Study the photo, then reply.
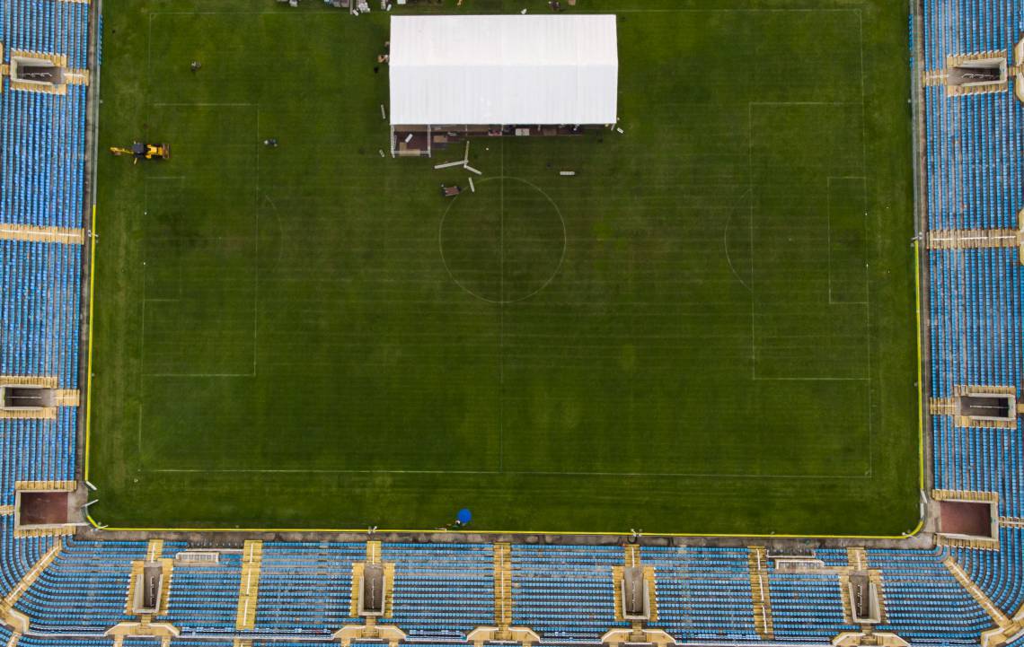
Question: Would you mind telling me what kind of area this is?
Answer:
sports ground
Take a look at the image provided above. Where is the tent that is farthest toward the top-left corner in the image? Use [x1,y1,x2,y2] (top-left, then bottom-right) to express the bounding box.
[388,14,618,136]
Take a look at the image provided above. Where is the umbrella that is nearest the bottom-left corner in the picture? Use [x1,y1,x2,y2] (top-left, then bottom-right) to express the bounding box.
[458,509,472,524]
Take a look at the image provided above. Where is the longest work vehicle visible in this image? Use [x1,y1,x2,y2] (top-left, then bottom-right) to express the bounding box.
[109,141,172,162]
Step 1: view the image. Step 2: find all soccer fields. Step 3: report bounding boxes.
[88,0,919,536]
